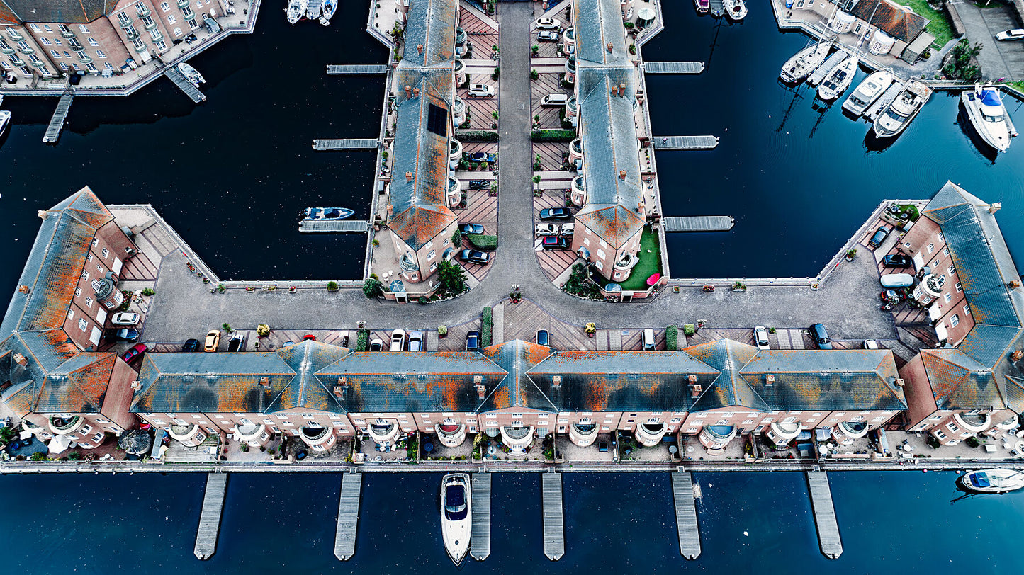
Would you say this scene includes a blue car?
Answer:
Yes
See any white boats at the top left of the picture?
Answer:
Yes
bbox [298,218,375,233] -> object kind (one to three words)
pier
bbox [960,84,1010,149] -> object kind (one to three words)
boat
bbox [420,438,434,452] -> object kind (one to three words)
umbrella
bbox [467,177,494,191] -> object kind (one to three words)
car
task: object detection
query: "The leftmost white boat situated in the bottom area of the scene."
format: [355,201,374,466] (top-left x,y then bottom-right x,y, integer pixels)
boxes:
[441,476,476,563]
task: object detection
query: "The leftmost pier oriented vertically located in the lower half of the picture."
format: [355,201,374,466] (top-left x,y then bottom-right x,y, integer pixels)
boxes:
[196,461,228,560]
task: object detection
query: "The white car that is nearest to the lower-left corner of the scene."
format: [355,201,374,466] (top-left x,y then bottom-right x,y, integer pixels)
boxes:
[110,311,145,326]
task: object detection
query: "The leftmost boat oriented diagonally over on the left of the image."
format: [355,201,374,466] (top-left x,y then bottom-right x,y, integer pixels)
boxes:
[179,65,207,89]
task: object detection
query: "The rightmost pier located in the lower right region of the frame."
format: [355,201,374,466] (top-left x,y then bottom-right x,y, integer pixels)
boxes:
[806,459,842,559]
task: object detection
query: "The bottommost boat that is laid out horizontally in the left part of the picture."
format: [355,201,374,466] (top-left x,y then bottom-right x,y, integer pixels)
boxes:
[303,209,355,222]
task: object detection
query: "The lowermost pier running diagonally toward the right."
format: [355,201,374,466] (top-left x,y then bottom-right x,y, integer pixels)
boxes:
[864,72,912,121]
